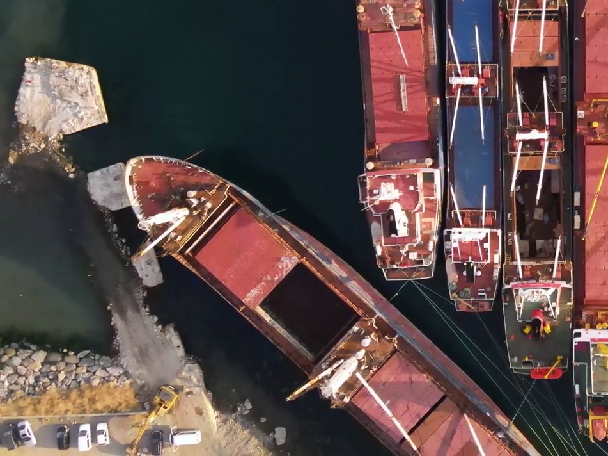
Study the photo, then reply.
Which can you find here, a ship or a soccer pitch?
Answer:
ship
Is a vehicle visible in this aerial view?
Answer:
Yes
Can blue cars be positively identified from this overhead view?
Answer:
No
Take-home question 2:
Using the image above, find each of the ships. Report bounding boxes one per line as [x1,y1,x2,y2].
[572,0,608,442]
[124,150,547,456]
[444,0,504,311]
[355,0,446,287]
[498,0,573,377]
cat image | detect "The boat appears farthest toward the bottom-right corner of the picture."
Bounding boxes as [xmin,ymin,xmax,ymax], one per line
[594,419,608,442]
